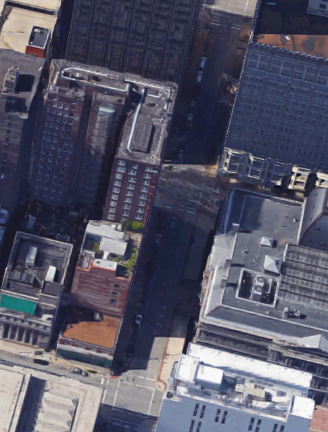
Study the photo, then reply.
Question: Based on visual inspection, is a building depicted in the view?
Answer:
Yes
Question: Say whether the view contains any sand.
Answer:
No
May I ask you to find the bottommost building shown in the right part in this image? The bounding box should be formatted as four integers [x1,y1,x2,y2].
[157,342,320,432]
